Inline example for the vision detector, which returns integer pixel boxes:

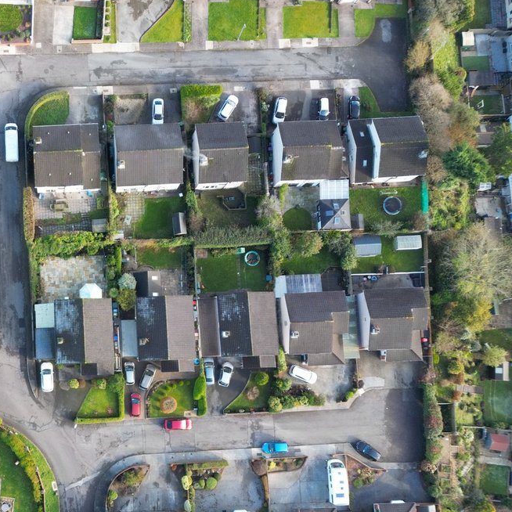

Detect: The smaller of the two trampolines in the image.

[243,250,261,265]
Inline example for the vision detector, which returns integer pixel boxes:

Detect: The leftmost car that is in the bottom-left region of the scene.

[41,363,54,391]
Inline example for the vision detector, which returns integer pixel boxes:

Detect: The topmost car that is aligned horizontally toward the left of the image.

[164,418,192,432]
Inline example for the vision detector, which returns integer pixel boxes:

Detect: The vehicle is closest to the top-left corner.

[4,126,19,161]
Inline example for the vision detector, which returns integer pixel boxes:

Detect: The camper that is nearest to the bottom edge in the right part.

[325,456,348,506]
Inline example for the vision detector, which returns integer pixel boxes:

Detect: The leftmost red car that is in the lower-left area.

[130,393,142,417]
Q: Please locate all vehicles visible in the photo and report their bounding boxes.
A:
[123,362,135,385]
[288,364,317,384]
[152,98,164,123]
[316,96,330,120]
[139,363,157,392]
[4,126,19,161]
[325,456,348,506]
[273,98,286,122]
[203,360,216,384]
[355,439,381,462]
[41,363,54,391]
[217,95,238,122]
[130,393,142,417]
[164,418,192,432]
[218,362,233,386]
[263,443,287,455]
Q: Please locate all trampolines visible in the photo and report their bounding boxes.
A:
[243,250,261,265]
[381,195,406,216]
